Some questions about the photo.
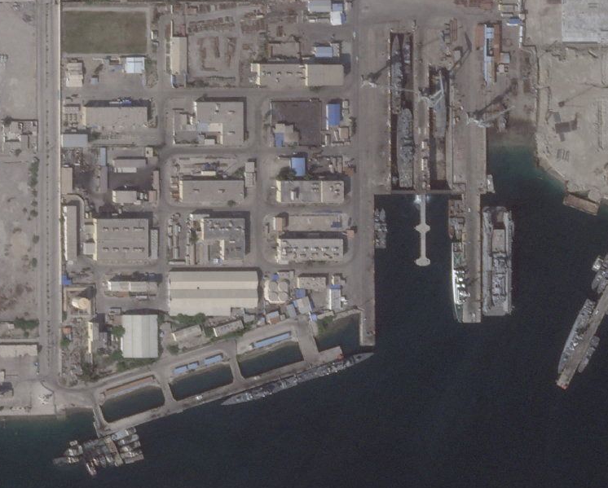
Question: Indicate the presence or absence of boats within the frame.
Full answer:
Yes, the picture does show a boat.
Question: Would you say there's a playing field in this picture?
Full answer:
Yes, the picture does show a playing field.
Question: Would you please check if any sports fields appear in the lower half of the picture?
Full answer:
No, no sports field can be made out in the lower half of the picture.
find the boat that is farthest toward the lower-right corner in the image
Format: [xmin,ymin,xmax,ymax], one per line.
[579,336,599,372]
